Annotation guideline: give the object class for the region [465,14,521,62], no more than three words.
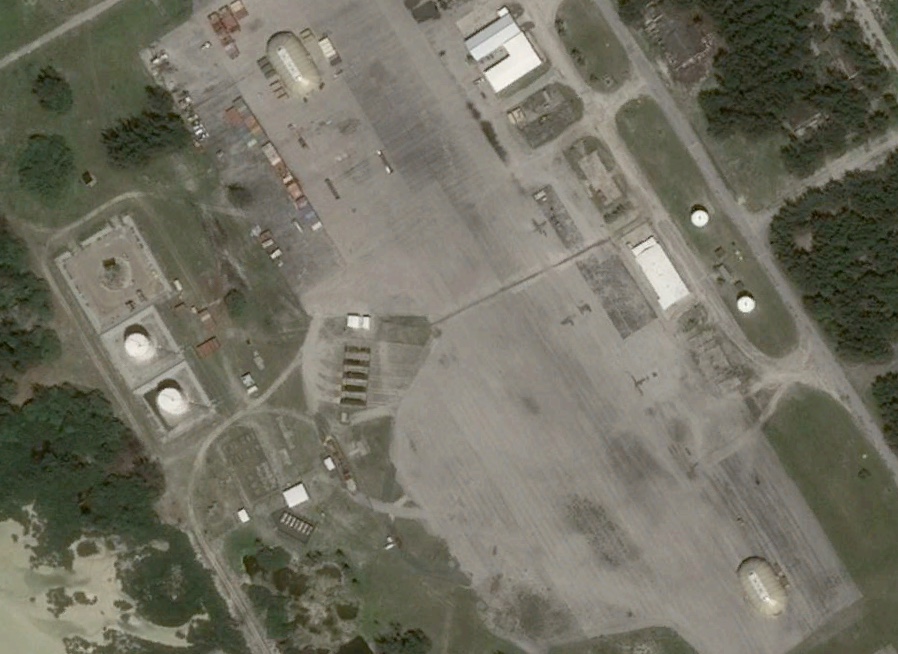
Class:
shed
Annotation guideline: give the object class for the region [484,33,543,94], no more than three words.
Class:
building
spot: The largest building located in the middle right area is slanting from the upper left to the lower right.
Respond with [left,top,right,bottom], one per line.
[638,245,691,312]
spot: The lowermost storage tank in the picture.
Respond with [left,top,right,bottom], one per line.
[157,387,189,418]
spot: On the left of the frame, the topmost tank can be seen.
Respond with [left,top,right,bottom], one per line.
[125,333,156,364]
